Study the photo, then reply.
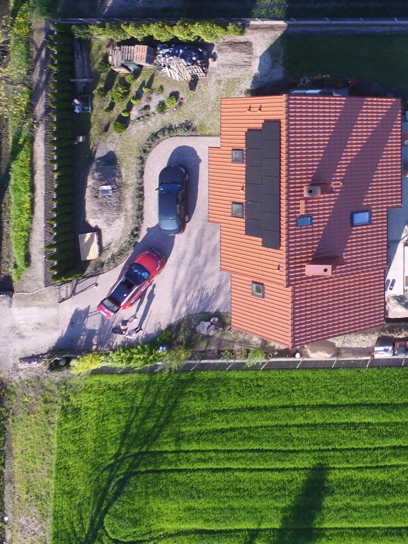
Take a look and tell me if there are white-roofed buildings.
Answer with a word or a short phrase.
No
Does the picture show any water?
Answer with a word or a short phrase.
No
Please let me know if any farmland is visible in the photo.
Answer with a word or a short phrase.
Yes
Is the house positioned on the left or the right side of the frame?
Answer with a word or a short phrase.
right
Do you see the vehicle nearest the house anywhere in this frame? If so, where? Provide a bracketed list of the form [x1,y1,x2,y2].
[150,164,188,236]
